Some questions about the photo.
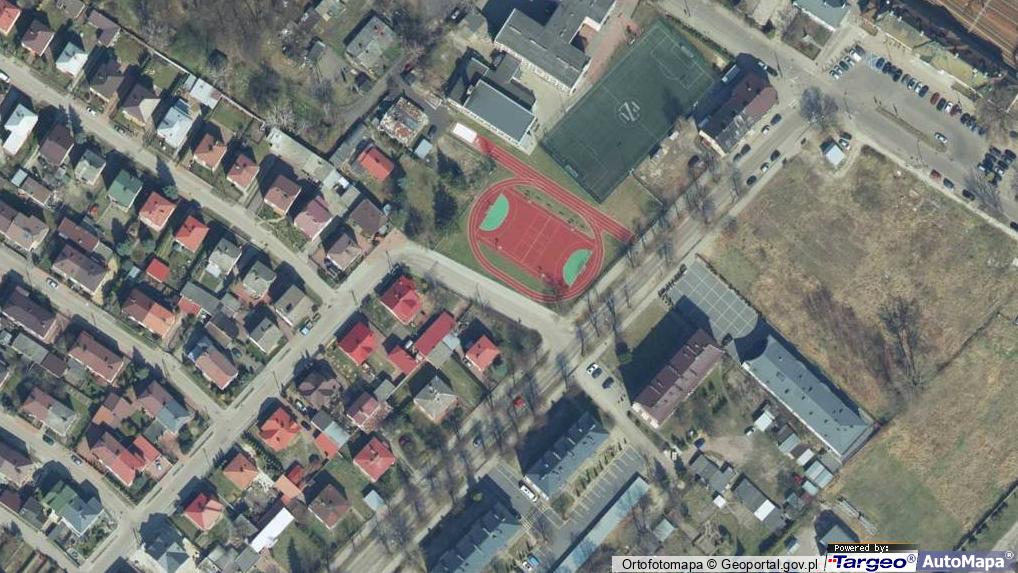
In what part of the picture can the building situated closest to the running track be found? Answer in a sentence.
The building situated closest to the running track appears toward the top of the photo.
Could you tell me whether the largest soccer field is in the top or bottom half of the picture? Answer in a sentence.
The top half of the photo is where the largest soccer field is.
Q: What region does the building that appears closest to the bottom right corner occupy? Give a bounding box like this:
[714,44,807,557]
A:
[819,523,858,562]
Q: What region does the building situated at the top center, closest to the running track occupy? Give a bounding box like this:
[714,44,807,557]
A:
[463,79,536,147]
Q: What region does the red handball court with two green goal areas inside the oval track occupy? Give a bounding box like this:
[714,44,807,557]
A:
[476,190,596,286]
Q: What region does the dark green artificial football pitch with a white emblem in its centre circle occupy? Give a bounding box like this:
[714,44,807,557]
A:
[543,21,714,202]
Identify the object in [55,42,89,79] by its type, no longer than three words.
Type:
house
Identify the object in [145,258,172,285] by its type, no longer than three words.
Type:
shed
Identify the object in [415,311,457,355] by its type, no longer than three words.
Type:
building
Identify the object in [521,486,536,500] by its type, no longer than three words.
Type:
vehicle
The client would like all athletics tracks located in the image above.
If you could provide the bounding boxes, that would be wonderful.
[468,134,635,298]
